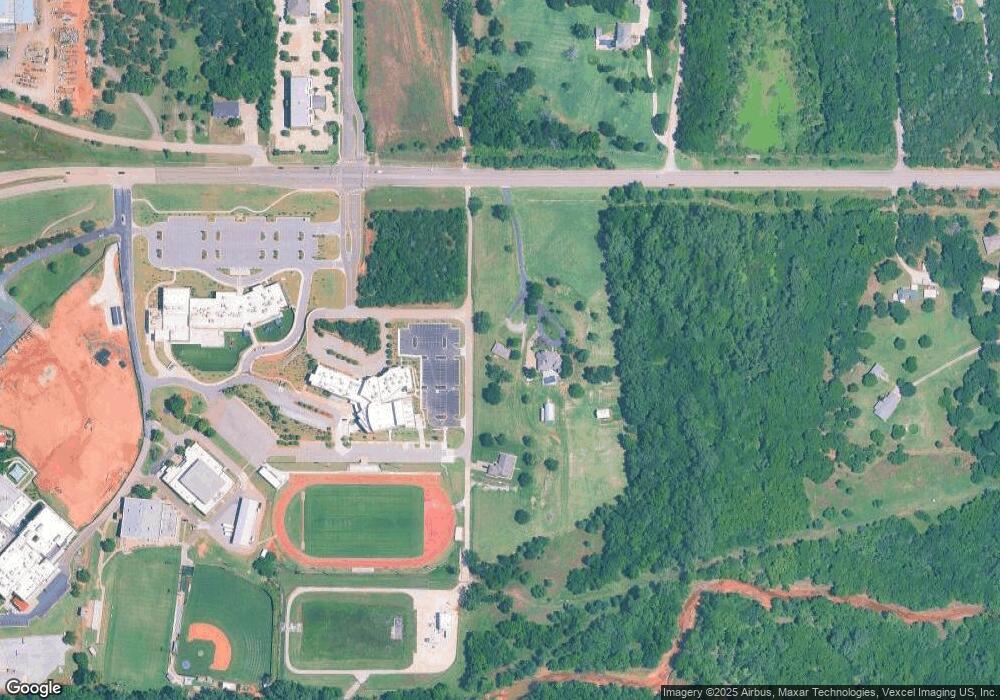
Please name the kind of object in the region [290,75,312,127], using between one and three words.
building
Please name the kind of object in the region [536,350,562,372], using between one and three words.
house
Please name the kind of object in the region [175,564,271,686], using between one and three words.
baseball field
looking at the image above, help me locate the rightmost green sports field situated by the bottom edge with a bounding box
[289,592,416,670]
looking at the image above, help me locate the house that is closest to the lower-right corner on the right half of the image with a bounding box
[874,386,902,420]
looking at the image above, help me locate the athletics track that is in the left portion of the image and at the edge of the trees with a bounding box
[271,473,457,570]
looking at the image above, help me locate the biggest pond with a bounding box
[737,75,794,152]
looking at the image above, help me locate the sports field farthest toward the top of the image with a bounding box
[284,483,425,558]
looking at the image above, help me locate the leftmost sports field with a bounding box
[104,546,182,690]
